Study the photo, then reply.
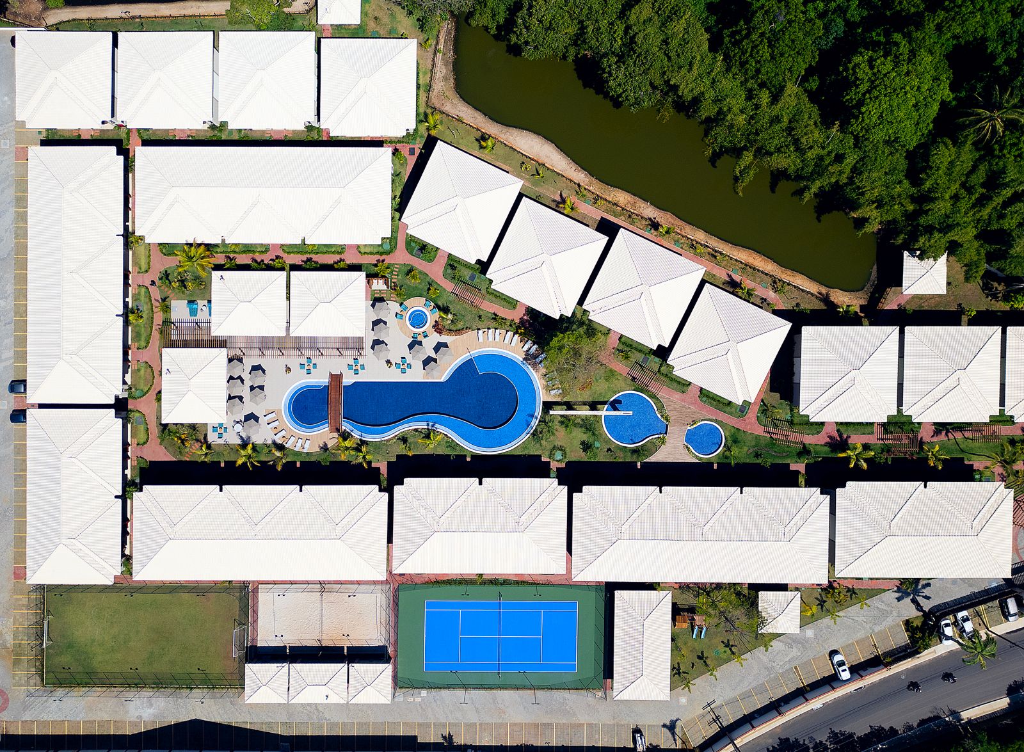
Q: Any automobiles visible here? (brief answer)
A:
Yes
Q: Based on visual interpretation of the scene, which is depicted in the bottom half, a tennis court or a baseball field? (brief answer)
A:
tennis court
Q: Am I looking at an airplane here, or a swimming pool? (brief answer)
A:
swimming pool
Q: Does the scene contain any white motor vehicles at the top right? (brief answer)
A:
No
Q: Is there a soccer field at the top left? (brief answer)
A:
No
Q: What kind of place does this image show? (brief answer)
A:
residential area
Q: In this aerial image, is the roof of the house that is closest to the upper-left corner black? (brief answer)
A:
No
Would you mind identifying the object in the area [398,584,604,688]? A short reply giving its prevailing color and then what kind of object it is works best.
blue tennis court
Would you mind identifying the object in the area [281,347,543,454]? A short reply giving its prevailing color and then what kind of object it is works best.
blue swimming pool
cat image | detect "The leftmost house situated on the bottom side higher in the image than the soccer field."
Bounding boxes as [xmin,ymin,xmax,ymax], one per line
[26,408,131,585]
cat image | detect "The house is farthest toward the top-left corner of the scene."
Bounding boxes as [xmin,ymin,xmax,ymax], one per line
[15,31,127,129]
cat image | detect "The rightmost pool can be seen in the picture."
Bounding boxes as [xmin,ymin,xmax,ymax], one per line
[685,421,725,457]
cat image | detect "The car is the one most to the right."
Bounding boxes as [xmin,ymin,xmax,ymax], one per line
[1000,597,1019,624]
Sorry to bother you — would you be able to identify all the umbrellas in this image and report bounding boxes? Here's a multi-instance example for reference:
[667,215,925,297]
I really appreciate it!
[245,419,261,437]
[228,359,246,377]
[251,387,267,405]
[227,398,245,415]
[250,369,267,385]
[228,379,246,395]
[373,343,391,360]
[411,345,428,361]
[437,346,453,364]
[374,322,391,340]
[374,302,392,318]
[426,360,441,378]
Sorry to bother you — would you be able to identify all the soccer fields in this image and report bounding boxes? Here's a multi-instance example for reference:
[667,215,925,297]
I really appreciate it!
[43,583,249,687]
